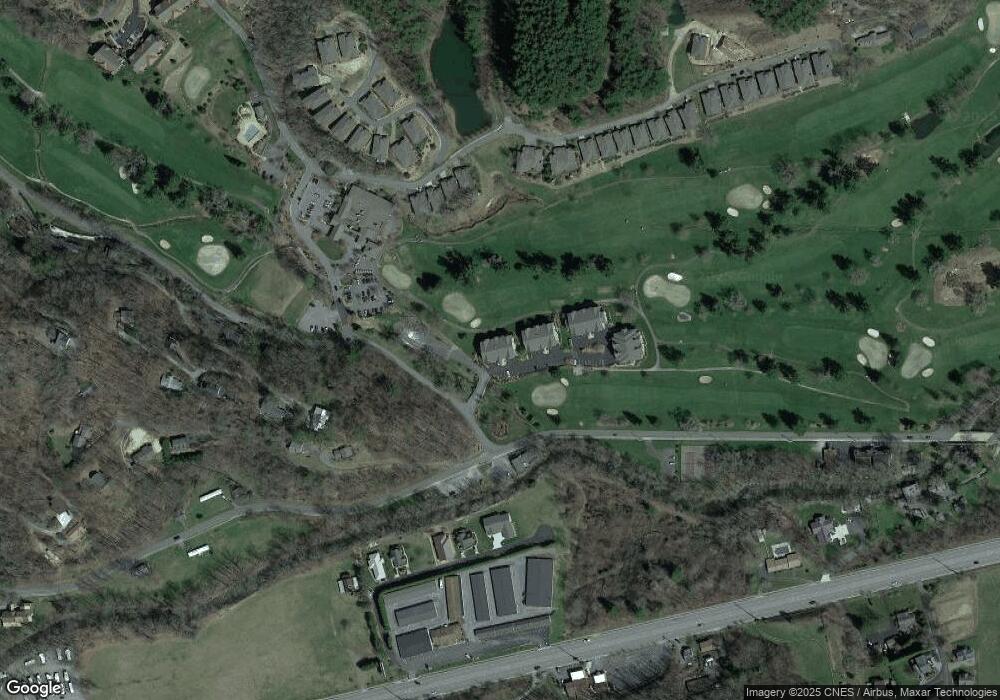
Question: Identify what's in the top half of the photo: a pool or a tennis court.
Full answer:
What appears in the top half of the photo is a pool.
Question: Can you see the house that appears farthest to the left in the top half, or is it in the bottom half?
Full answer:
It is in the bottom half that the house that appears farthest to the left appears.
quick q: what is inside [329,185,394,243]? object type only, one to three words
building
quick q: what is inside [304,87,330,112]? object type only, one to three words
house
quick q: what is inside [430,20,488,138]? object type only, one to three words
pond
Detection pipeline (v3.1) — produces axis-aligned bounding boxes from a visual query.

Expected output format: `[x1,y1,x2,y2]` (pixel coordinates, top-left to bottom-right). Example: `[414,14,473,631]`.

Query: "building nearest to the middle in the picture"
[482,334,519,363]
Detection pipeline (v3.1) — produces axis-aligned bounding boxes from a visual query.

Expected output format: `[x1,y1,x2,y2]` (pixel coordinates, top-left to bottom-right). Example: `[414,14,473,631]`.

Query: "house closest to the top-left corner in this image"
[95,44,125,73]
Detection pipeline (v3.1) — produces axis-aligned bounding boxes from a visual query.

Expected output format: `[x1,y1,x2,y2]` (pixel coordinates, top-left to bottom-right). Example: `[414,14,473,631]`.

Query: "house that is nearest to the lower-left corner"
[1,603,33,626]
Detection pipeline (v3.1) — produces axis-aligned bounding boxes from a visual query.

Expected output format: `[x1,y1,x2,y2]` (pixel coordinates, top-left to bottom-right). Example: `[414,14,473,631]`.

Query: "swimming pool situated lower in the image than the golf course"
[771,542,791,557]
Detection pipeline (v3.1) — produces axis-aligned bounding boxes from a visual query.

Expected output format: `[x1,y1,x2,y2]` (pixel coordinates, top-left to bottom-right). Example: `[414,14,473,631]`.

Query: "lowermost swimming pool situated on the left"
[237,102,268,147]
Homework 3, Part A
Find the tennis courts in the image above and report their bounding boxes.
[681,445,718,481]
